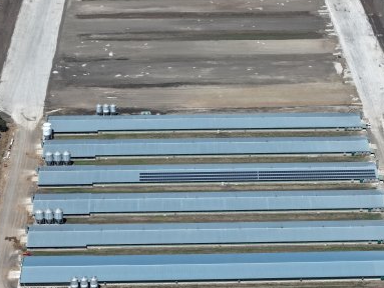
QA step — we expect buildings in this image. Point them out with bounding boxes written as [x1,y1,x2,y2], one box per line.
[23,190,384,220]
[39,112,372,137]
[10,252,384,288]
[28,162,384,190]
[16,221,384,252]
[33,136,380,162]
